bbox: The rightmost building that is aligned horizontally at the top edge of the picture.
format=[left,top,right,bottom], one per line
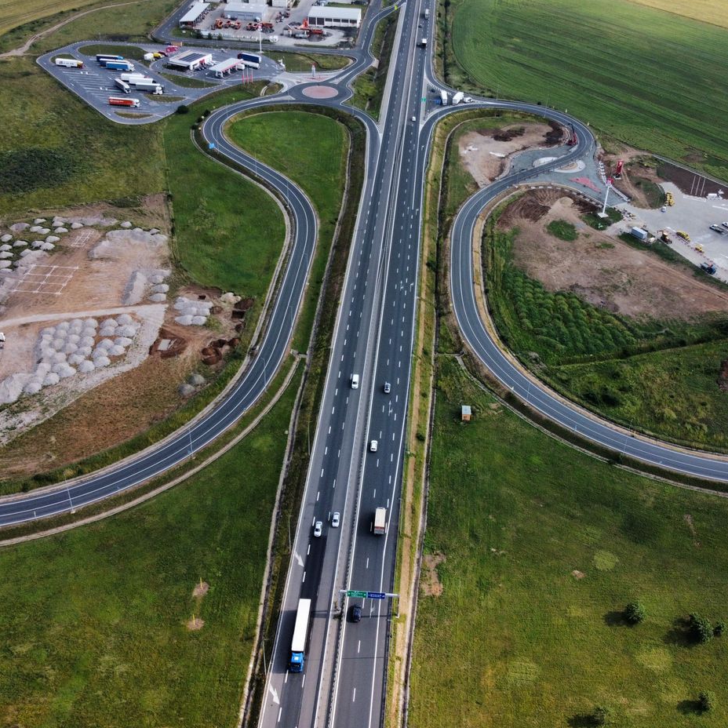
[307,7,366,28]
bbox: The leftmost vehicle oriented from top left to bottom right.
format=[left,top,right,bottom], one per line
[114,77,131,94]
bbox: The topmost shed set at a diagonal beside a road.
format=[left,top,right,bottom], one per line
[178,1,210,28]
